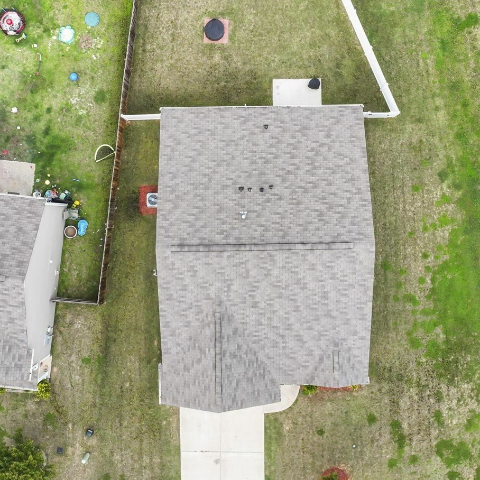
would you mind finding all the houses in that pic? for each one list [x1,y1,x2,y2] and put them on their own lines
[155,104,375,411]
[0,191,66,389]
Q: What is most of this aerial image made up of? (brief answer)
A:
grass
